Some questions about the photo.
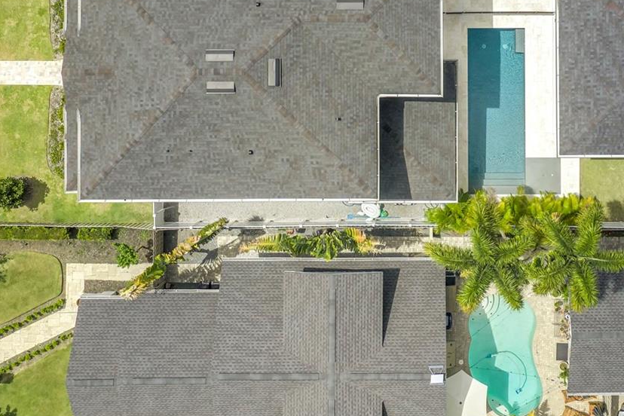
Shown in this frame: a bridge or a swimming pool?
swimming pool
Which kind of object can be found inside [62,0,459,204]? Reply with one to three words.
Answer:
house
